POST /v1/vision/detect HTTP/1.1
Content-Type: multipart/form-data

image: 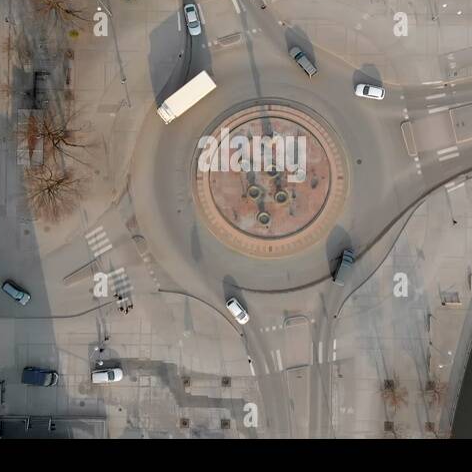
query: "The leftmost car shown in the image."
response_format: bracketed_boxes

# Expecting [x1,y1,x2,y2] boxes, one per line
[0,279,29,306]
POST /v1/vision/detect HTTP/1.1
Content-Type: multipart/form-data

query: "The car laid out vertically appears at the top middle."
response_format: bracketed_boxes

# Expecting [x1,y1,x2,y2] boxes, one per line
[185,3,200,35]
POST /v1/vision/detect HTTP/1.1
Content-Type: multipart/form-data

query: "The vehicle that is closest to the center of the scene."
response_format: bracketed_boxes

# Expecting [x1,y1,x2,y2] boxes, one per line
[225,297,249,325]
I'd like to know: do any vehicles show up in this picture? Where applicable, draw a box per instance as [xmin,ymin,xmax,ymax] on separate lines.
[225,297,249,325]
[290,45,318,77]
[355,83,386,100]
[332,250,357,286]
[185,3,200,35]
[0,279,29,306]
[91,367,123,384]
[159,66,219,122]
[21,368,58,386]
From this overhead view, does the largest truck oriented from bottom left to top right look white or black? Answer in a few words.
white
